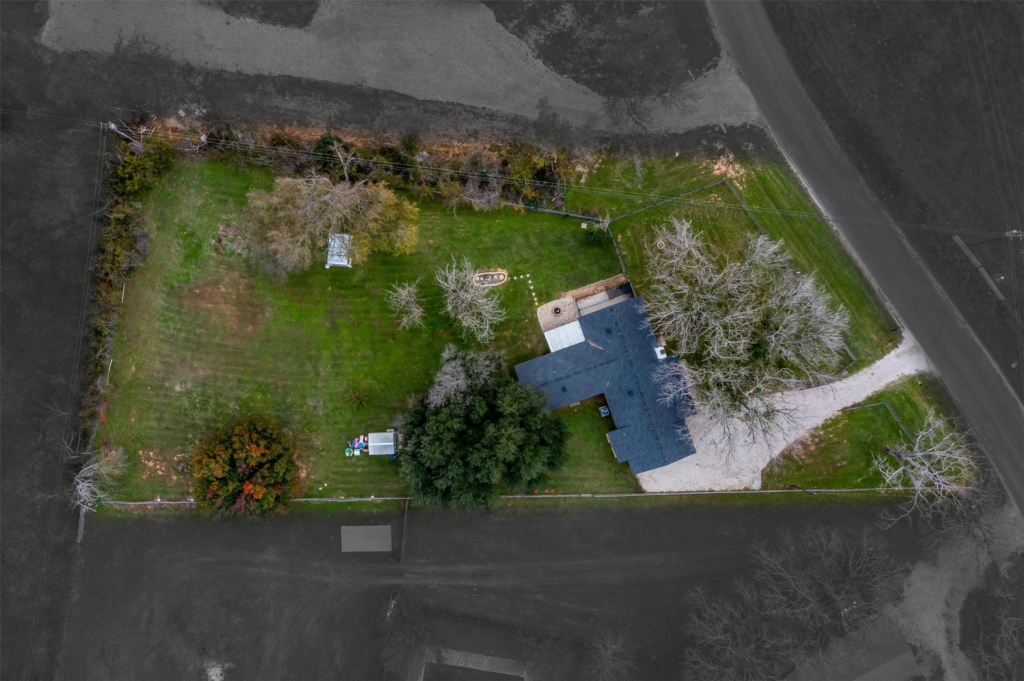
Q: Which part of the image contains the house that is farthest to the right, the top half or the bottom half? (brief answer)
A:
bottom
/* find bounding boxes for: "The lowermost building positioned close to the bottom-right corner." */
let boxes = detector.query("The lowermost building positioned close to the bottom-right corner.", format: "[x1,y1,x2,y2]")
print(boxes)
[792,622,920,681]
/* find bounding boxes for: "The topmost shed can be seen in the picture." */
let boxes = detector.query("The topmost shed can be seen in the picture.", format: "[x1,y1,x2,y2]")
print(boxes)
[328,235,358,274]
